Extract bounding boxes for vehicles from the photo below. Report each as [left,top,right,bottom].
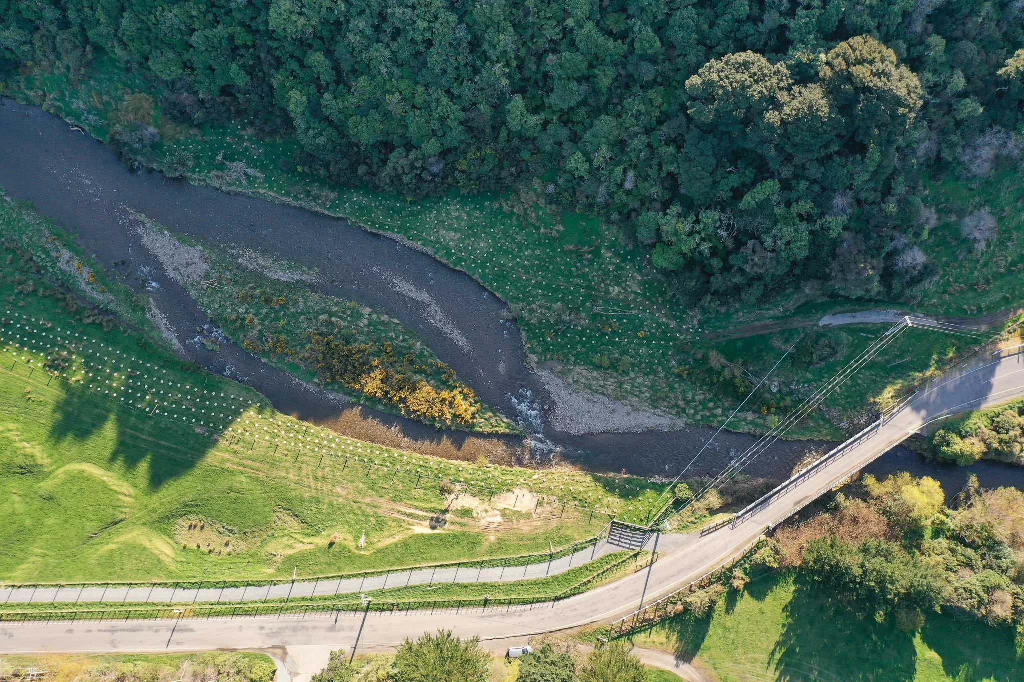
[509,645,531,658]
